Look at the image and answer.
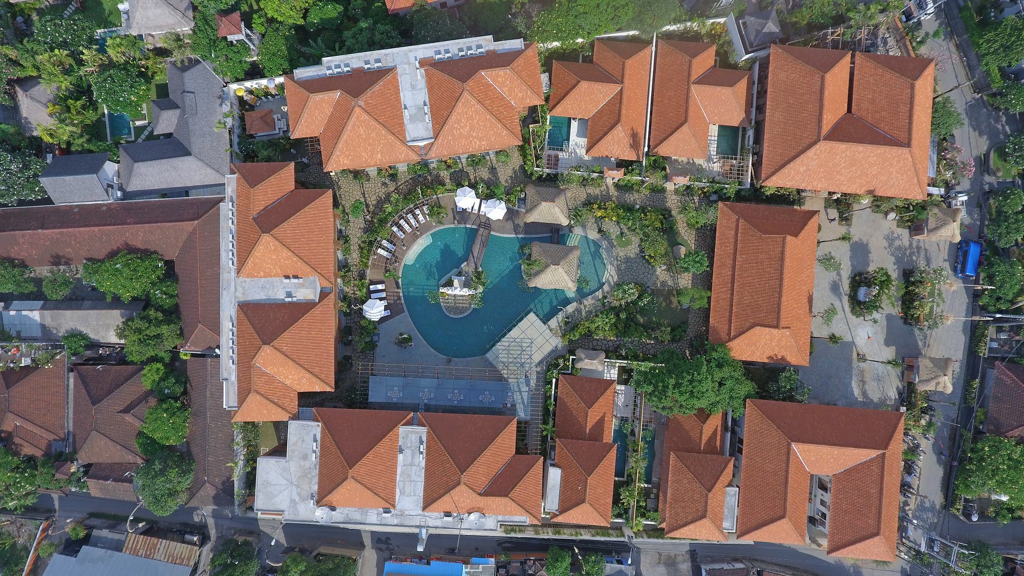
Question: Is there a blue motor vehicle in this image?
Yes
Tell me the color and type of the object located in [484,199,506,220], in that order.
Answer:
white umbrella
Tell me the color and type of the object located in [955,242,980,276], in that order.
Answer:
blue vehicle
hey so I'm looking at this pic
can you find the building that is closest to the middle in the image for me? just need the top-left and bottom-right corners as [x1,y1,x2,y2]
[525,239,582,293]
